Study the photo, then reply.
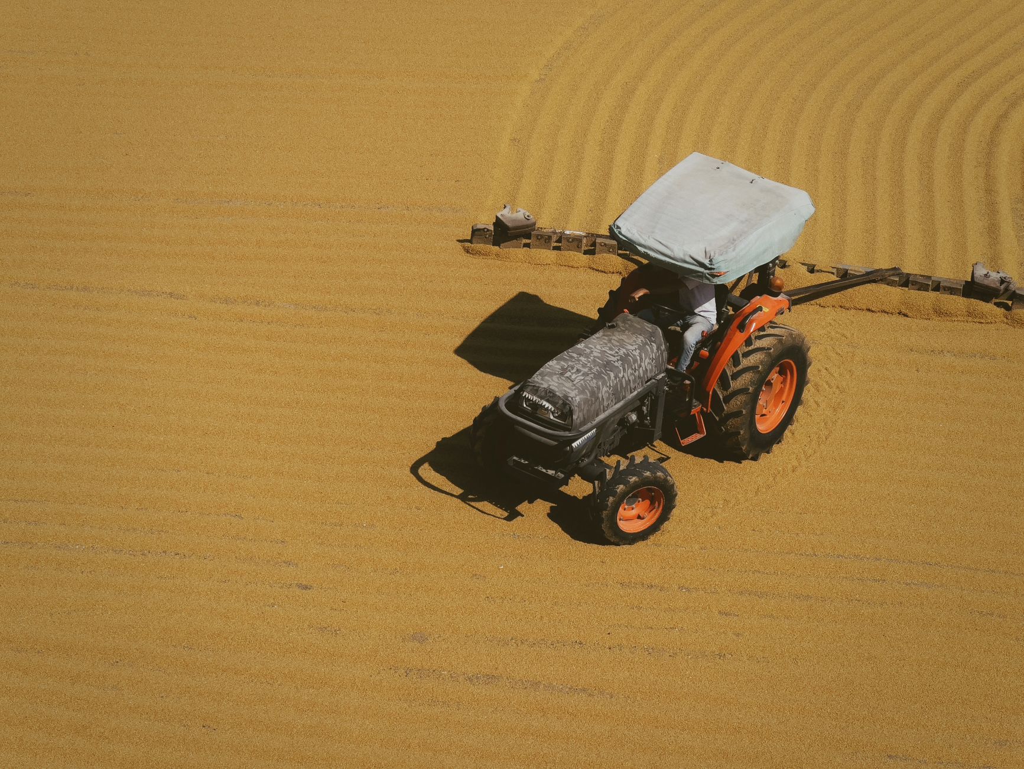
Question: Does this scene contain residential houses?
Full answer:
No, I find no residential house anywhere in the image.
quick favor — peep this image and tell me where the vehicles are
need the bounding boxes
[485,155,815,545]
